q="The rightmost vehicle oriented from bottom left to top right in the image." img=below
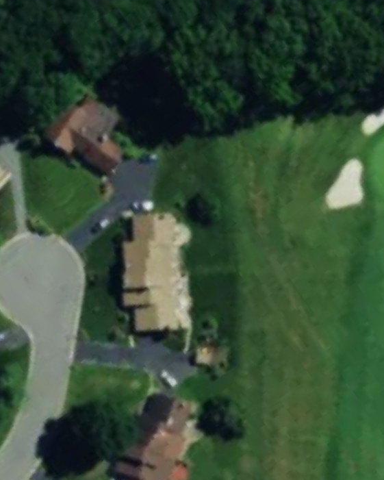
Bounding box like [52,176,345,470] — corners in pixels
[95,216,110,231]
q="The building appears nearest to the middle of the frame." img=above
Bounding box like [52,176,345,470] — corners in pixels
[123,214,196,330]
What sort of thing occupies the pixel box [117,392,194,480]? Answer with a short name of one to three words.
house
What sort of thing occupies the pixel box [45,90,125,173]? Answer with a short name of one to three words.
house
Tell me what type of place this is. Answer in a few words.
golf course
